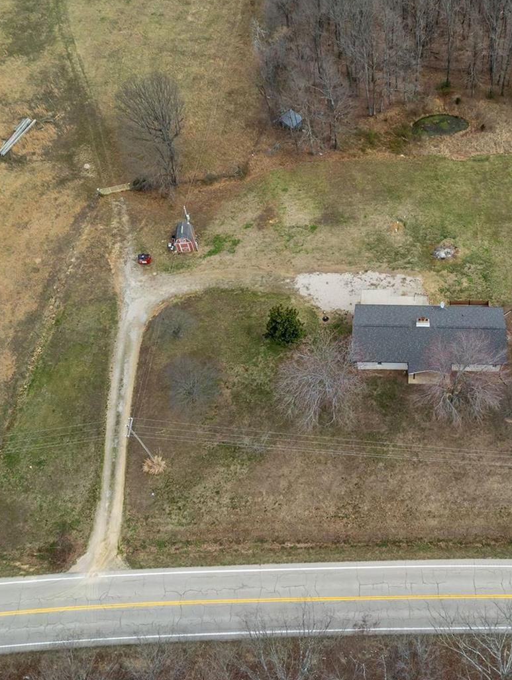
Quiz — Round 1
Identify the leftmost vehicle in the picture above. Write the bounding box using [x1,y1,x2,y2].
[137,250,151,264]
